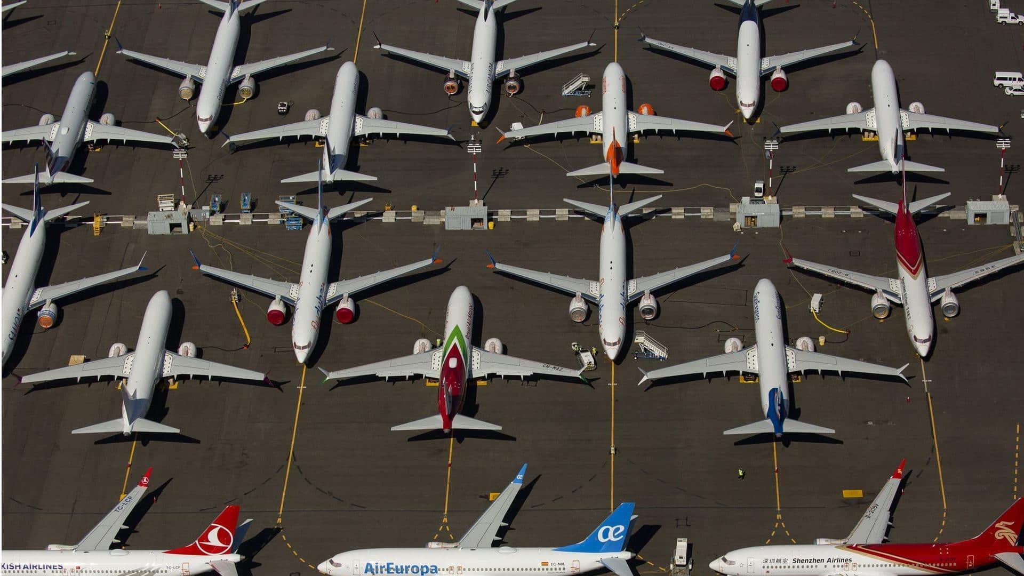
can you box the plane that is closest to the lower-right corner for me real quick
[709,458,1024,576]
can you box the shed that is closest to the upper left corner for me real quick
[146,207,191,234]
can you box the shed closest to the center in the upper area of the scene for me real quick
[443,202,489,230]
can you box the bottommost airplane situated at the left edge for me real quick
[0,467,253,576]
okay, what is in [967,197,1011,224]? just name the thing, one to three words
shed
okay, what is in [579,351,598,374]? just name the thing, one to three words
vehicle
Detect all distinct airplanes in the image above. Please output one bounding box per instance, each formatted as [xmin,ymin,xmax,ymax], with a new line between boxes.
[0,467,253,576]
[8,291,275,436]
[317,463,638,576]
[782,152,1024,358]
[190,160,442,364]
[772,61,1010,174]
[496,64,733,177]
[220,63,456,185]
[709,458,1024,576]
[0,163,148,360]
[637,0,862,122]
[318,287,587,433]
[638,280,909,438]
[373,0,596,125]
[0,73,181,186]
[486,158,739,361]
[114,0,336,135]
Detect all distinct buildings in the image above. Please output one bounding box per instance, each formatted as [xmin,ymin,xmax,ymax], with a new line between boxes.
[146,207,191,234]
[443,202,489,230]
[735,199,781,227]
[967,197,1011,224]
